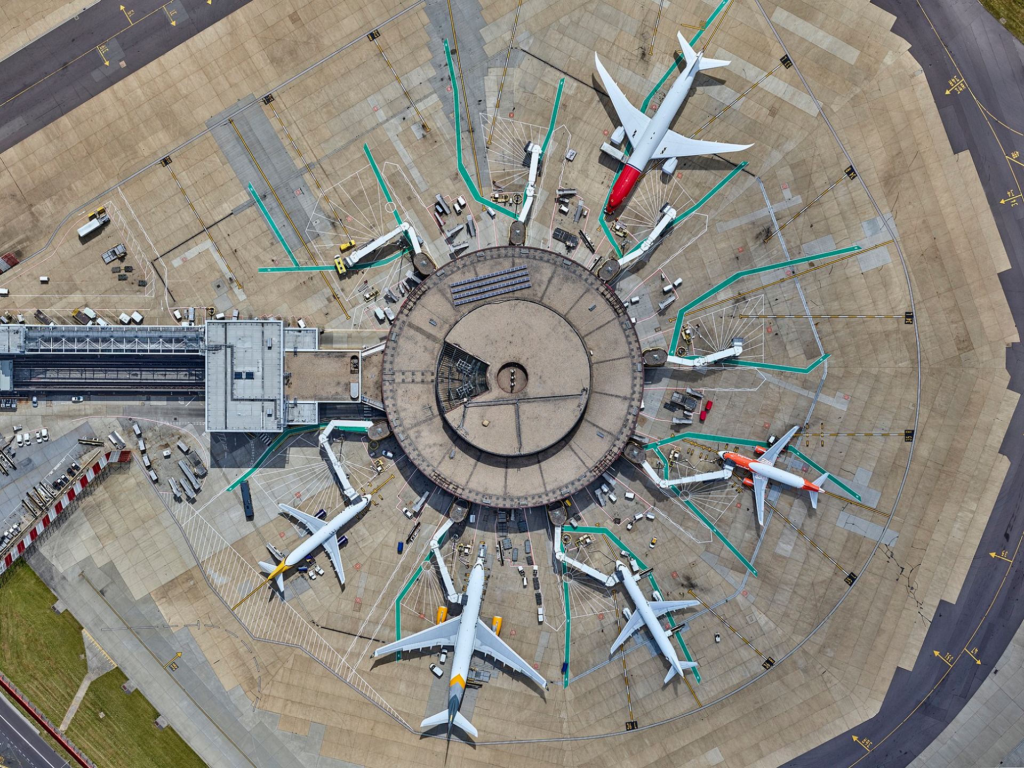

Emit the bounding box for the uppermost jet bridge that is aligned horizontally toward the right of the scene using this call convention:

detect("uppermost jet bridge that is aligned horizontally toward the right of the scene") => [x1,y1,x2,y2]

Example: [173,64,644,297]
[665,335,745,367]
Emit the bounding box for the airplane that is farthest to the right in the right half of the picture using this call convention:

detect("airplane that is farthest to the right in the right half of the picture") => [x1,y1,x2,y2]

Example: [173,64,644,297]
[718,427,829,529]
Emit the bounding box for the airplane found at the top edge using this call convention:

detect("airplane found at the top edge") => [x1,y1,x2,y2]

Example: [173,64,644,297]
[595,30,755,213]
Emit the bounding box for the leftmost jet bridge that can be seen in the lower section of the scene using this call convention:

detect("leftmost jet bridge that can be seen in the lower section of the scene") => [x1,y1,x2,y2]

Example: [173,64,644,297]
[317,418,372,509]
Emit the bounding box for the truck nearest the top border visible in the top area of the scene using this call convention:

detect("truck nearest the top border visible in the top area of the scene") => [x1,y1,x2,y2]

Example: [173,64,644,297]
[601,143,631,164]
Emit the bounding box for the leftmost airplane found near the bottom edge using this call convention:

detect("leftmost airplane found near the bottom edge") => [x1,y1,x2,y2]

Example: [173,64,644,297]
[369,558,551,745]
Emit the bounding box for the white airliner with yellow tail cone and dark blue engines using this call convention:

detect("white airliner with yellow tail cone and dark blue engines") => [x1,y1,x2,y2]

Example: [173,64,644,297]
[258,495,372,595]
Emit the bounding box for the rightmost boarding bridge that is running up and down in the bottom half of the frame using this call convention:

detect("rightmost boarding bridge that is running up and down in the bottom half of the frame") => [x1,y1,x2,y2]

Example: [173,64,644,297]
[429,519,469,602]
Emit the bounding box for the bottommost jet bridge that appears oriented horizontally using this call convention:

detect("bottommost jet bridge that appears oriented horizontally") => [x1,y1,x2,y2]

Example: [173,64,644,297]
[640,455,741,490]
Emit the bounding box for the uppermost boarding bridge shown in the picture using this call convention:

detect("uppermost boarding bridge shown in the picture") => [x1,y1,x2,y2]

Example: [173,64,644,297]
[516,141,542,224]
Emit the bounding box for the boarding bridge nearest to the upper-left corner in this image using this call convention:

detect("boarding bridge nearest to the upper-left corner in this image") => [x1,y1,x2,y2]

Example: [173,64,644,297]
[344,221,426,275]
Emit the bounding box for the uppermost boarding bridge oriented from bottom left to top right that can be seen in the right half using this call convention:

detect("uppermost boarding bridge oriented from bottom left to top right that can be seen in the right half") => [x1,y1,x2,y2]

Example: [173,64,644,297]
[618,200,676,266]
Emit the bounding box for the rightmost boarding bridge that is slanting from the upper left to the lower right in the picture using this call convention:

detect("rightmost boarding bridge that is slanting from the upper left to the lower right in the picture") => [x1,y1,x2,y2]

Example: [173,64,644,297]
[553,524,626,586]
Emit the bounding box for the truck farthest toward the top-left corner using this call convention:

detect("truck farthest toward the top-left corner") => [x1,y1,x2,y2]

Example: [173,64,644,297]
[73,213,112,239]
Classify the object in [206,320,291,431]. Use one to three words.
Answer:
building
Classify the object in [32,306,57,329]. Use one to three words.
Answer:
truck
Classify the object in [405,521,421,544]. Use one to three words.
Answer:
work vehicle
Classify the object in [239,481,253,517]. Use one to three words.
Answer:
vehicle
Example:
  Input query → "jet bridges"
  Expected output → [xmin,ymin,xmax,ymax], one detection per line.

[429,519,469,602]
[618,200,676,266]
[317,418,372,509]
[553,524,626,586]
[344,221,426,275]
[640,455,741,490]
[516,141,542,224]
[665,335,745,367]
